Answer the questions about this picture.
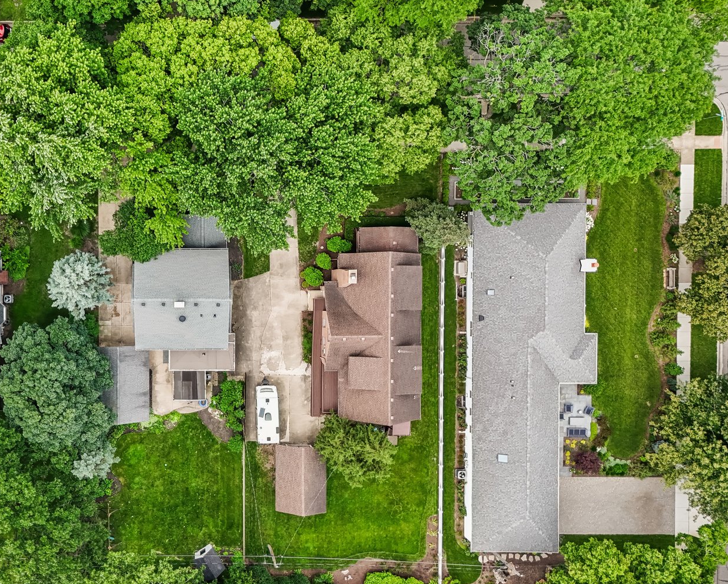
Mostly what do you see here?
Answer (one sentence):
Most of the picture is covered by trees.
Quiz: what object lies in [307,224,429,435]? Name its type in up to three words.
house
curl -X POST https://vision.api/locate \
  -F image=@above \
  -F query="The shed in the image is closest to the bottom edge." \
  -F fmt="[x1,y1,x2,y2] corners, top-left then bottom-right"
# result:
[196,544,225,582]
